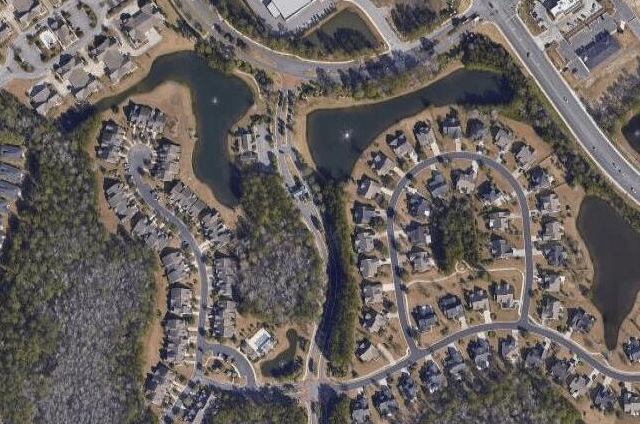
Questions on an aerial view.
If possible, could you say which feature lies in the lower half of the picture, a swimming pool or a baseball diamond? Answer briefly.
swimming pool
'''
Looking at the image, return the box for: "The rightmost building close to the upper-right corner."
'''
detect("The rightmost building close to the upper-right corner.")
[577,32,619,69]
